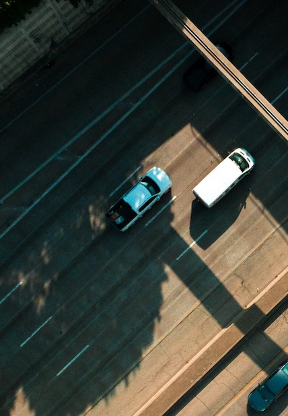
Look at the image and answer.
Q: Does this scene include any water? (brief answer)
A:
No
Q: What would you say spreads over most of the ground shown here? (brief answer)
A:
paved ground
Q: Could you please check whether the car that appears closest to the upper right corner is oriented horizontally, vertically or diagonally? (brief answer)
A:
diagonally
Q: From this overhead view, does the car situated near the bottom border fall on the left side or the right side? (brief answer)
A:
right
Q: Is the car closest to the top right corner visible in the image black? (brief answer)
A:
Yes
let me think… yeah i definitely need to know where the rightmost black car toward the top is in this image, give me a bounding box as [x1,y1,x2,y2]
[180,41,234,94]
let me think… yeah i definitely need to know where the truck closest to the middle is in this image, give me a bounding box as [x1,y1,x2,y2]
[105,170,170,232]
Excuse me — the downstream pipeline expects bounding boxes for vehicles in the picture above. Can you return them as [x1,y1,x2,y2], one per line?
[180,41,234,94]
[193,151,254,210]
[252,356,288,411]
[105,170,170,232]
